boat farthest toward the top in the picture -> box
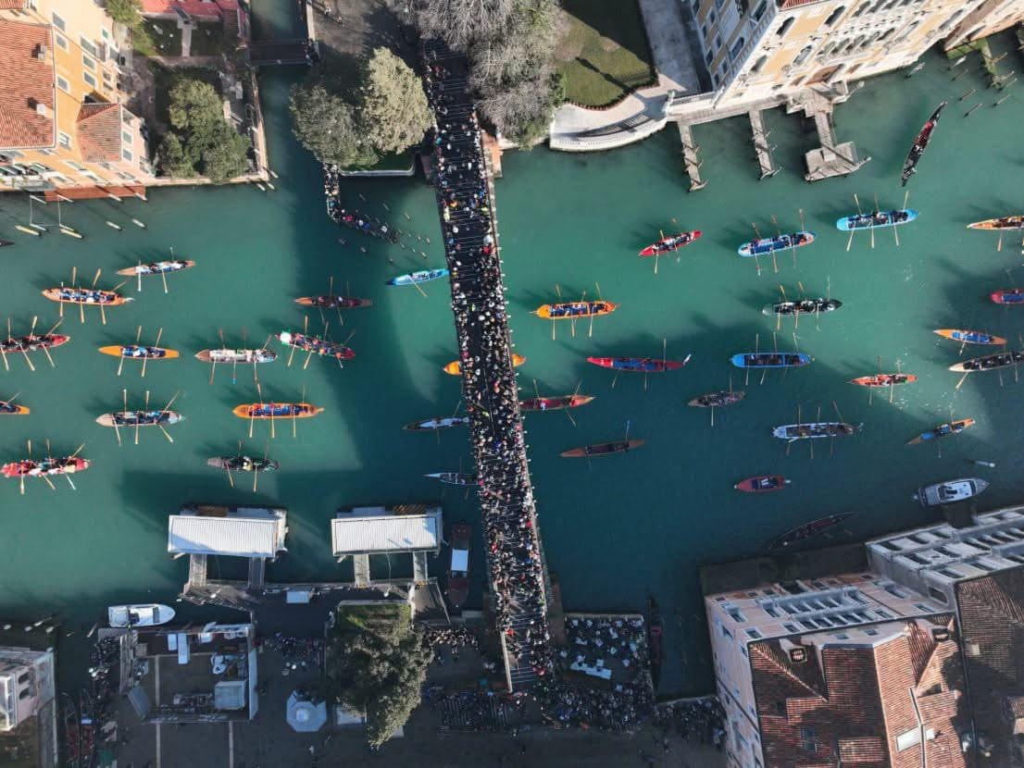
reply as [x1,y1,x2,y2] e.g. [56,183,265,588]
[902,93,958,186]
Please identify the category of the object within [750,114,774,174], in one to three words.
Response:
pier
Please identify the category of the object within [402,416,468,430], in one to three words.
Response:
boat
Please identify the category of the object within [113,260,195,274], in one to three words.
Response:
boat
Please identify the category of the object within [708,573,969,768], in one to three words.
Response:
building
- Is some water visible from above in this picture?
Yes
